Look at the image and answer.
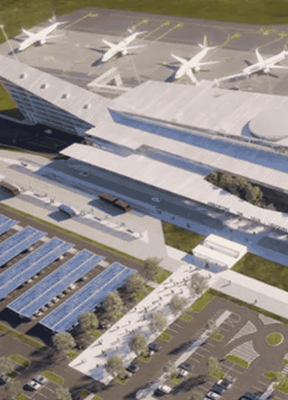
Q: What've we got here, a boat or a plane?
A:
plane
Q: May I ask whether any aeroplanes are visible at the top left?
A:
Yes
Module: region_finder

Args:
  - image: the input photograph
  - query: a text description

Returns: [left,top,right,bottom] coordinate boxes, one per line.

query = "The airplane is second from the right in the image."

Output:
[173,36,220,78]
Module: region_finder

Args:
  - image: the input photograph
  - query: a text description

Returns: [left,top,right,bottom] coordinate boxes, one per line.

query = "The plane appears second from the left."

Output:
[100,23,147,62]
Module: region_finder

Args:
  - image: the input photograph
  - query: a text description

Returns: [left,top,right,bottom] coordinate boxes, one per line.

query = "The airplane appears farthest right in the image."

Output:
[241,44,288,72]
